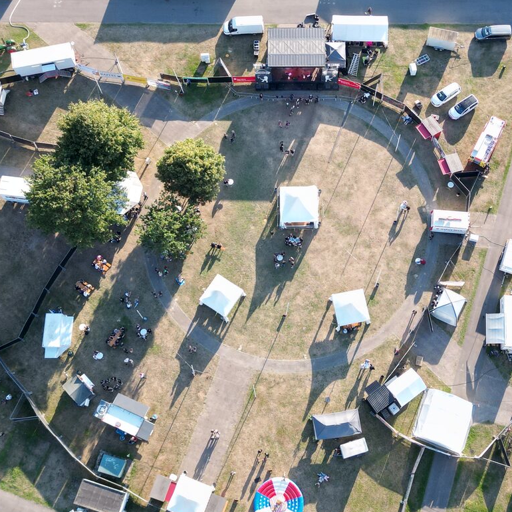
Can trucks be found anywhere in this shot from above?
Yes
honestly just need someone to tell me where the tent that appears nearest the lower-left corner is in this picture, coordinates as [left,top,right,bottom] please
[62,371,102,409]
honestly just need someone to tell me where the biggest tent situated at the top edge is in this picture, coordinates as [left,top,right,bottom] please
[332,15,389,50]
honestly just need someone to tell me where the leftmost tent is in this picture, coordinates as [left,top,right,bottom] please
[42,313,79,359]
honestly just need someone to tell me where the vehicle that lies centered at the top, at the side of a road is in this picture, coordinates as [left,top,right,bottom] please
[222,12,265,34]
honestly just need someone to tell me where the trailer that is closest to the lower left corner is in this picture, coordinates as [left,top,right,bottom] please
[91,388,160,443]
